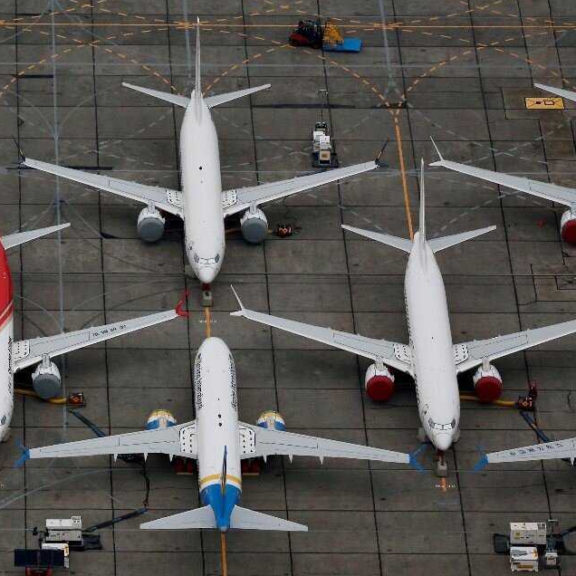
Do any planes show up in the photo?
Yes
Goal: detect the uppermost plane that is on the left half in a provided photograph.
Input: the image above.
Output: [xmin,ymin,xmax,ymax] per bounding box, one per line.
[11,15,389,296]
